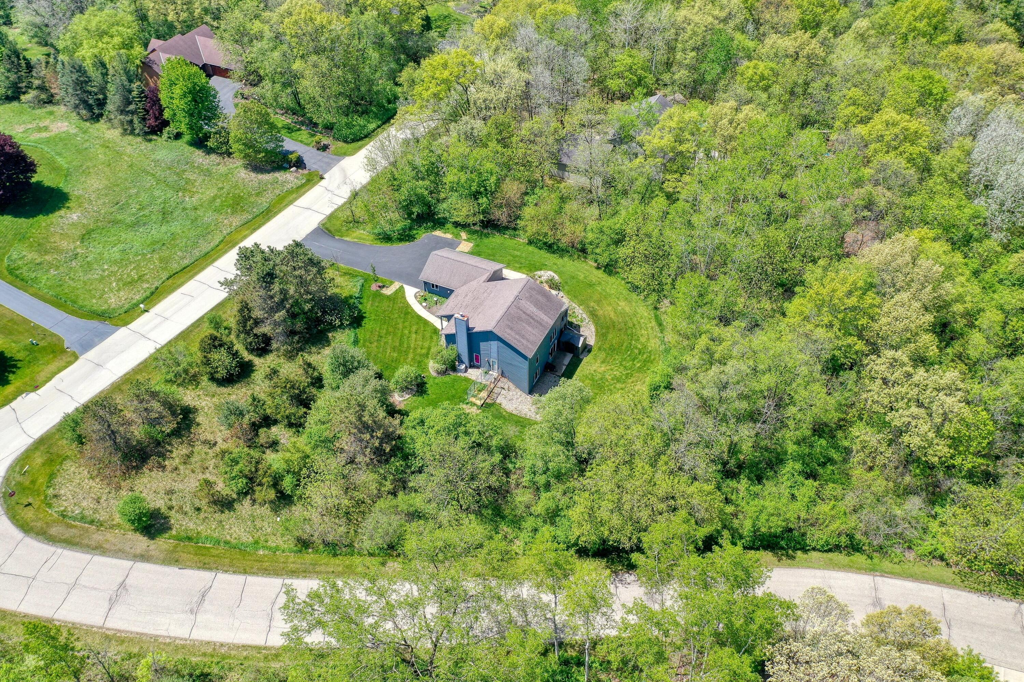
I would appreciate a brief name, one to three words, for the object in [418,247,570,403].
house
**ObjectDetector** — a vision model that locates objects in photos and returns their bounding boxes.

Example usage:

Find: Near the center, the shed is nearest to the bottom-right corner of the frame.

[559,327,587,355]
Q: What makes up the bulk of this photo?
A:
trees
